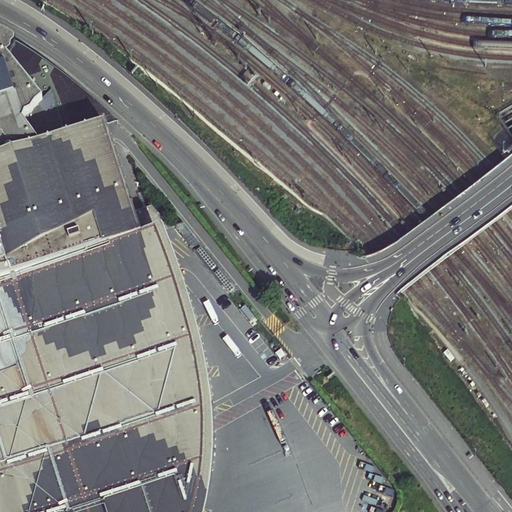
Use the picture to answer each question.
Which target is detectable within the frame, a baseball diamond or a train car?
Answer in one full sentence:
The image shows a train car.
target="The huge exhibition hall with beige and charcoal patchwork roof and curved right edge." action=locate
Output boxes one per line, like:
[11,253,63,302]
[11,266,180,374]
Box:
[0,205,215,512]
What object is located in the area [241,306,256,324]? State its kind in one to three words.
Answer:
vehicle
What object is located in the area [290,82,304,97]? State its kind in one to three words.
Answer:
rail car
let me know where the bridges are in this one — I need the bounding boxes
[365,155,512,294]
